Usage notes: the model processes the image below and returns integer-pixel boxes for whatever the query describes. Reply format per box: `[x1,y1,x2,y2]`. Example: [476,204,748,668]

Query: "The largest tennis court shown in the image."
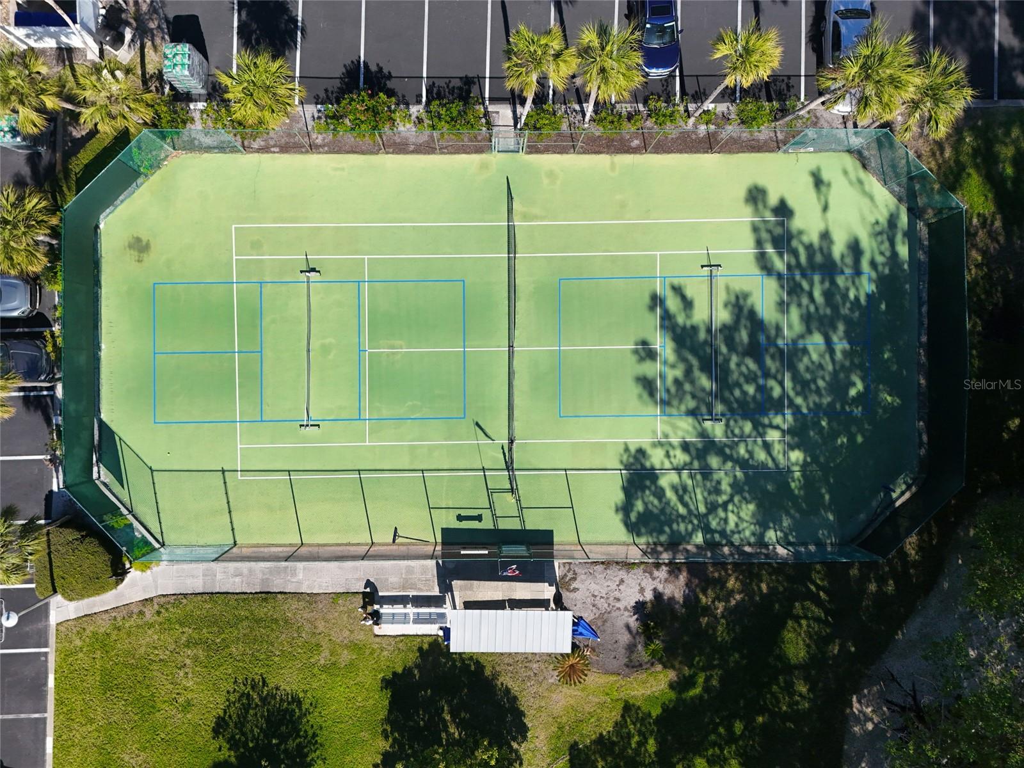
[101,153,919,543]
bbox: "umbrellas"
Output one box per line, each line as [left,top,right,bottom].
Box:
[572,616,602,640]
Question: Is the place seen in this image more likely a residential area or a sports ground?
sports ground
